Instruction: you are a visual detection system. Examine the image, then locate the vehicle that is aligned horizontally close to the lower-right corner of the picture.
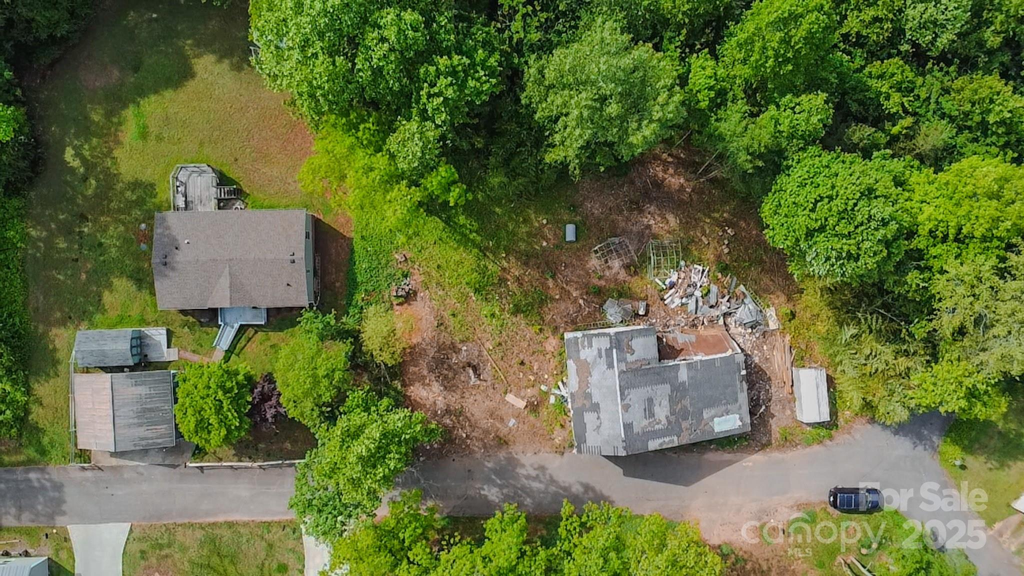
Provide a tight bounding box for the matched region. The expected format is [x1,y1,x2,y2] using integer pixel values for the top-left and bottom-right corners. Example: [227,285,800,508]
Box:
[827,487,881,513]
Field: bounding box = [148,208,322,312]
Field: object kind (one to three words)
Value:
house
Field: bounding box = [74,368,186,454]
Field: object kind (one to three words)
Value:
building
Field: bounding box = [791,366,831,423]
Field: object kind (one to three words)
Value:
shed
